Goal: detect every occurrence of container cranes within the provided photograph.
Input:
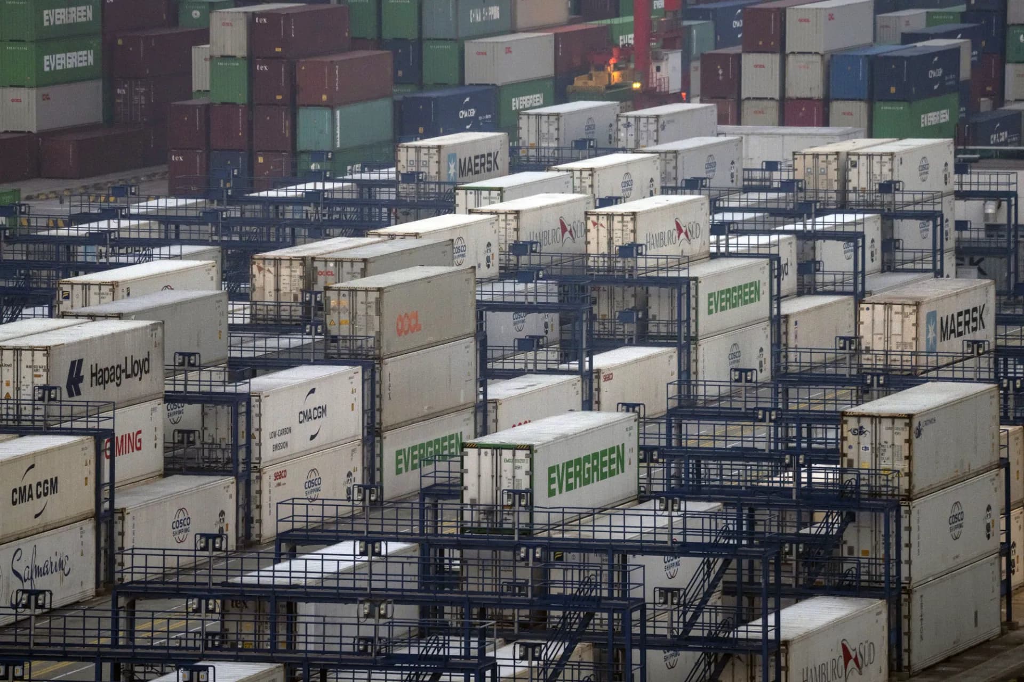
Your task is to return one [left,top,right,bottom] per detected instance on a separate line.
[570,0,706,110]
